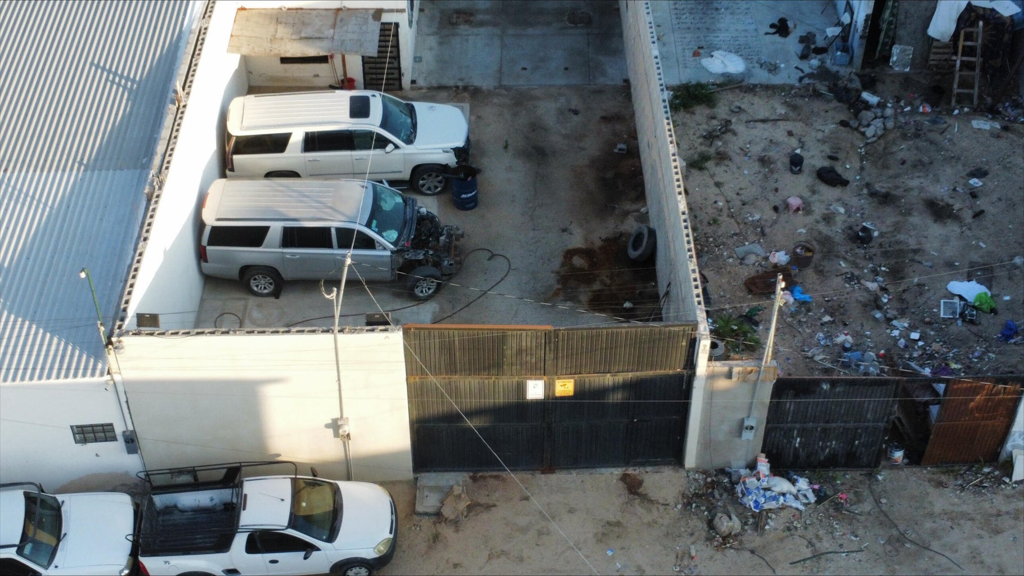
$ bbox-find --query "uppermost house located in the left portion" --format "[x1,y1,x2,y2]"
[228,0,419,95]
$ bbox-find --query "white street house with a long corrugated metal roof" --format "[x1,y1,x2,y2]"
[0,0,208,482]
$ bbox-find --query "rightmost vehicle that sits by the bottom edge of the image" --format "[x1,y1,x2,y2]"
[121,460,405,576]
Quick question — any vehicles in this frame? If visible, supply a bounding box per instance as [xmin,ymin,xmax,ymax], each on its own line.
[206,177,480,298]
[121,460,405,576]
[229,89,472,197]
[0,478,140,576]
